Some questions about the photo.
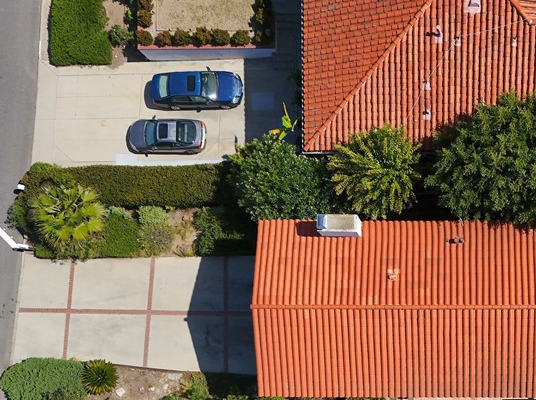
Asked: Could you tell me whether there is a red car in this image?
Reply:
No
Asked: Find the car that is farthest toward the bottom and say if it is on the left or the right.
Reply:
left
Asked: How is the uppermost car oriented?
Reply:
horizontally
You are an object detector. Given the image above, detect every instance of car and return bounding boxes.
[150,67,245,114]
[128,113,208,158]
